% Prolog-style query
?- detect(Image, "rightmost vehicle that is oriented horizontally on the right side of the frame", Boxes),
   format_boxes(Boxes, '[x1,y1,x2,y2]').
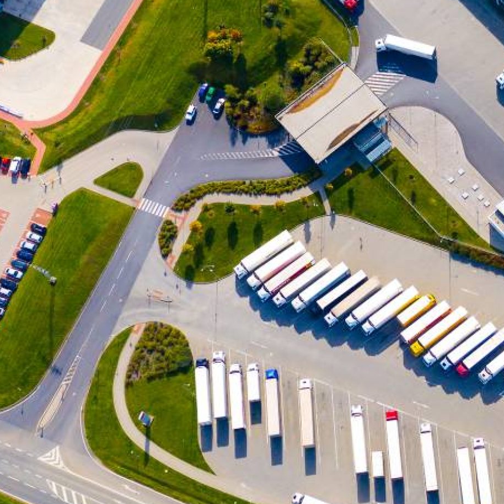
[376,40,438,62]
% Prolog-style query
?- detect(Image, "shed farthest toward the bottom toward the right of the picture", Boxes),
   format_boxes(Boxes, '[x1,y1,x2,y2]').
[485,209,504,239]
